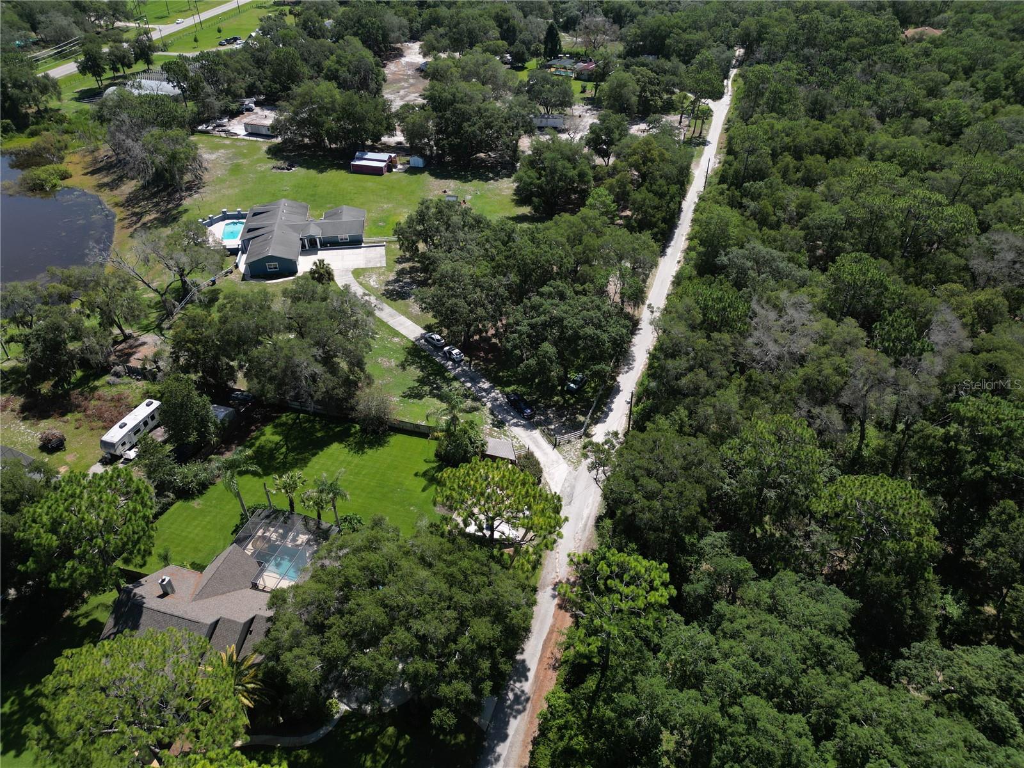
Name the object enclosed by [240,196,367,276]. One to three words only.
house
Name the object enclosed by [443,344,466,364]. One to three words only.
car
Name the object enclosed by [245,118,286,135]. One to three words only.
house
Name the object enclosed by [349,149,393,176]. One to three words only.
barn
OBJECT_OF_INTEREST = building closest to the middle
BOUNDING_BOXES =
[484,439,516,473]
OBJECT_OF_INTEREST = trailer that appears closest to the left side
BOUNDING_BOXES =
[25,419,77,448]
